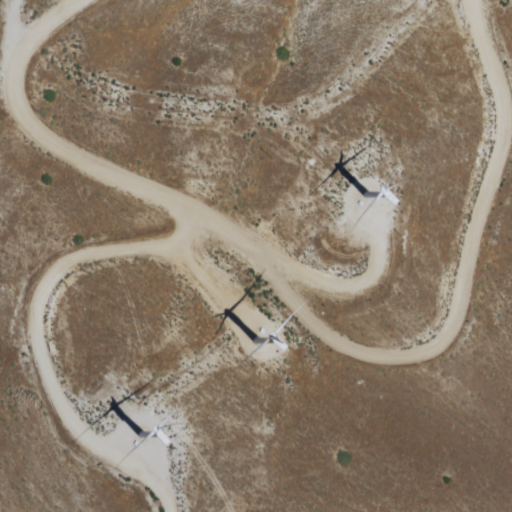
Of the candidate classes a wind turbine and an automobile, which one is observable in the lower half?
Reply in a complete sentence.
There is a wind turbine in the lower half.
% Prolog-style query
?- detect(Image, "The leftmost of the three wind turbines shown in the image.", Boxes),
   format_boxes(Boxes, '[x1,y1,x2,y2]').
[115,400,174,462]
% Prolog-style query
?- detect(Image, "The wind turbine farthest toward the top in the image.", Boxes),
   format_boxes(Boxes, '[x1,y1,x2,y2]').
[346,166,408,224]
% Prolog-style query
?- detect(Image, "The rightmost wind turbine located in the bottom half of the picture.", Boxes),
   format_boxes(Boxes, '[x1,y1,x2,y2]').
[237,295,300,356]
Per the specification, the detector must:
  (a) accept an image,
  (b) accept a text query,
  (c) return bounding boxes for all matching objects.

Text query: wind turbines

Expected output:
[346,166,408,224]
[237,295,300,356]
[115,400,174,462]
